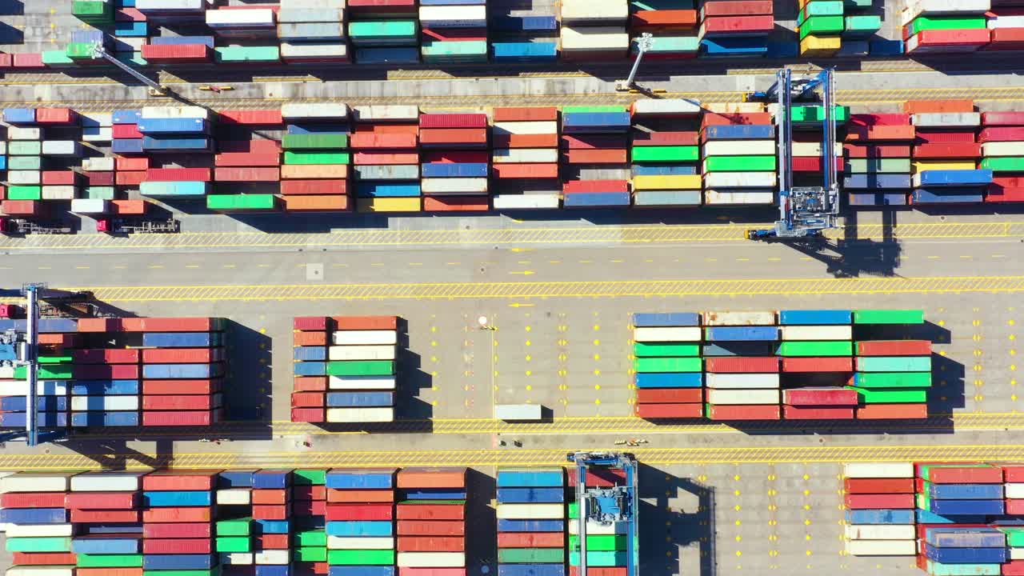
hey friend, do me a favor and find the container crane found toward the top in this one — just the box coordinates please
[743,67,840,241]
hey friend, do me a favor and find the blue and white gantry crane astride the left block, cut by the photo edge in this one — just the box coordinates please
[0,283,94,447]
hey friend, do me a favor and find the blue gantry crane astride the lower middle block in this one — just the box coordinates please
[560,450,640,576]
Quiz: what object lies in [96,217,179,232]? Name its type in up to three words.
vehicle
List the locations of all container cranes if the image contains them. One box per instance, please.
[743,67,840,241]
[560,450,640,576]
[0,283,94,447]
